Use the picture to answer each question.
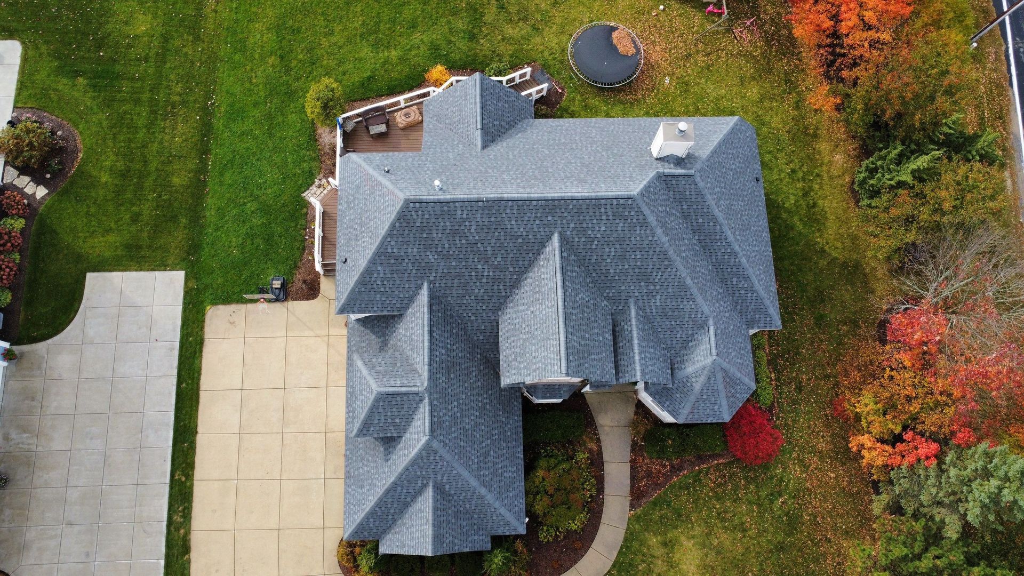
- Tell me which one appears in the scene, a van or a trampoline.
trampoline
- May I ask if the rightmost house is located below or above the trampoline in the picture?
below it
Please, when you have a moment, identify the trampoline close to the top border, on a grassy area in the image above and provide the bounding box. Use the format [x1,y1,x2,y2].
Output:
[569,22,643,93]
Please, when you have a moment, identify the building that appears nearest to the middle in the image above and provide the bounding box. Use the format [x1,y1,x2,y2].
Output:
[333,72,782,555]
